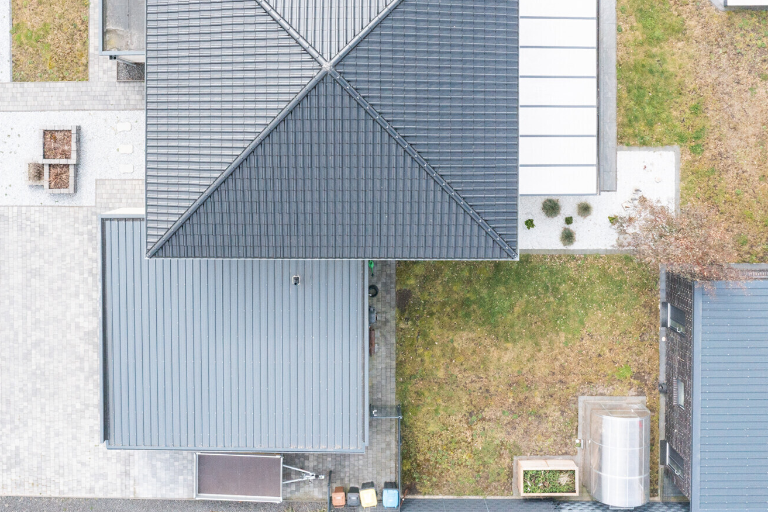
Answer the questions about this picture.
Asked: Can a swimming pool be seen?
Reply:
No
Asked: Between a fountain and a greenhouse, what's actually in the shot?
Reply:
greenhouse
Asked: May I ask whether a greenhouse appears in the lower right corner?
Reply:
Yes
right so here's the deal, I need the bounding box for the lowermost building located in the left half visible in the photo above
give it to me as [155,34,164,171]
[100,211,369,453]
